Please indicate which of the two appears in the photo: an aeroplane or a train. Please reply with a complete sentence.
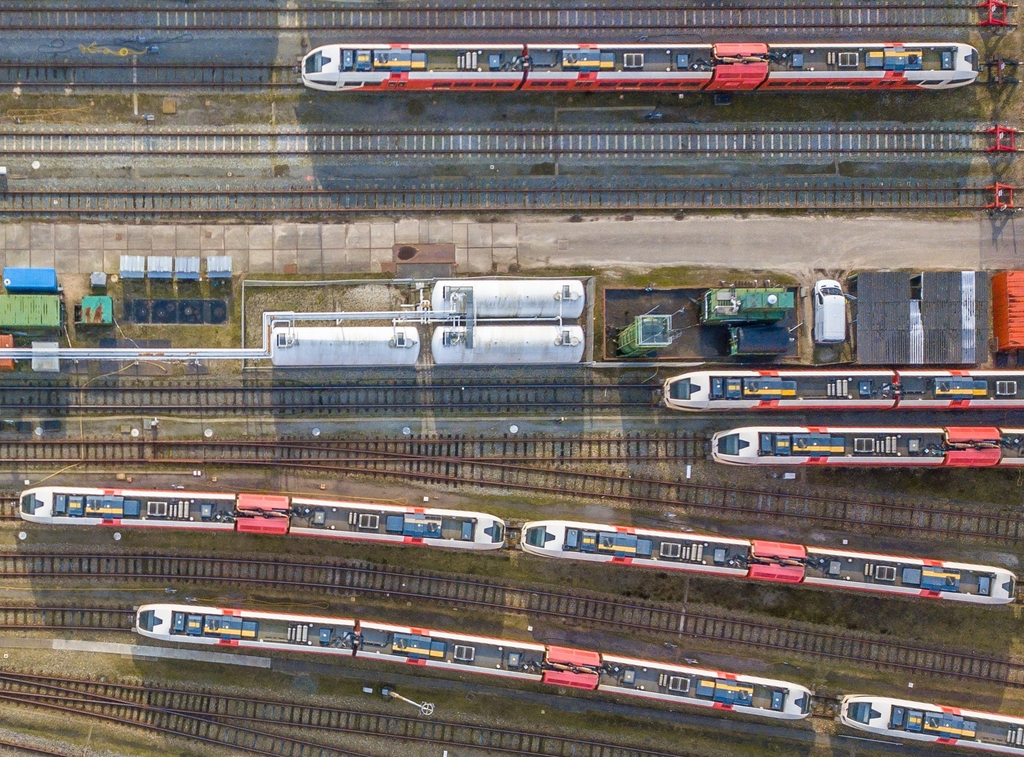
I can see a train in this picture.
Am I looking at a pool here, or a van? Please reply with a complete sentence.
Looking from above, you can make out a van.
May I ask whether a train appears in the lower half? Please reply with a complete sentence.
Yes, a train shows up in the lower half.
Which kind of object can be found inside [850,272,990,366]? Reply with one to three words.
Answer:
shed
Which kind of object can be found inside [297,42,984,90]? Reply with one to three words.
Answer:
train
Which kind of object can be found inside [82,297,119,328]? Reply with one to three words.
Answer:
shed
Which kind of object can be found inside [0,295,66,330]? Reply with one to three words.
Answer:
shipping container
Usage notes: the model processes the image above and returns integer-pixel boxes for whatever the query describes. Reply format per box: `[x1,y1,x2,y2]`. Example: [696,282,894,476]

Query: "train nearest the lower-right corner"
[833,692,1024,755]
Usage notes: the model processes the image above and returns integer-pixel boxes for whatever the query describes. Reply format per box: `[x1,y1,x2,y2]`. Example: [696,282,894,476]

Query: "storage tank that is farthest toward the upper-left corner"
[273,328,419,366]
